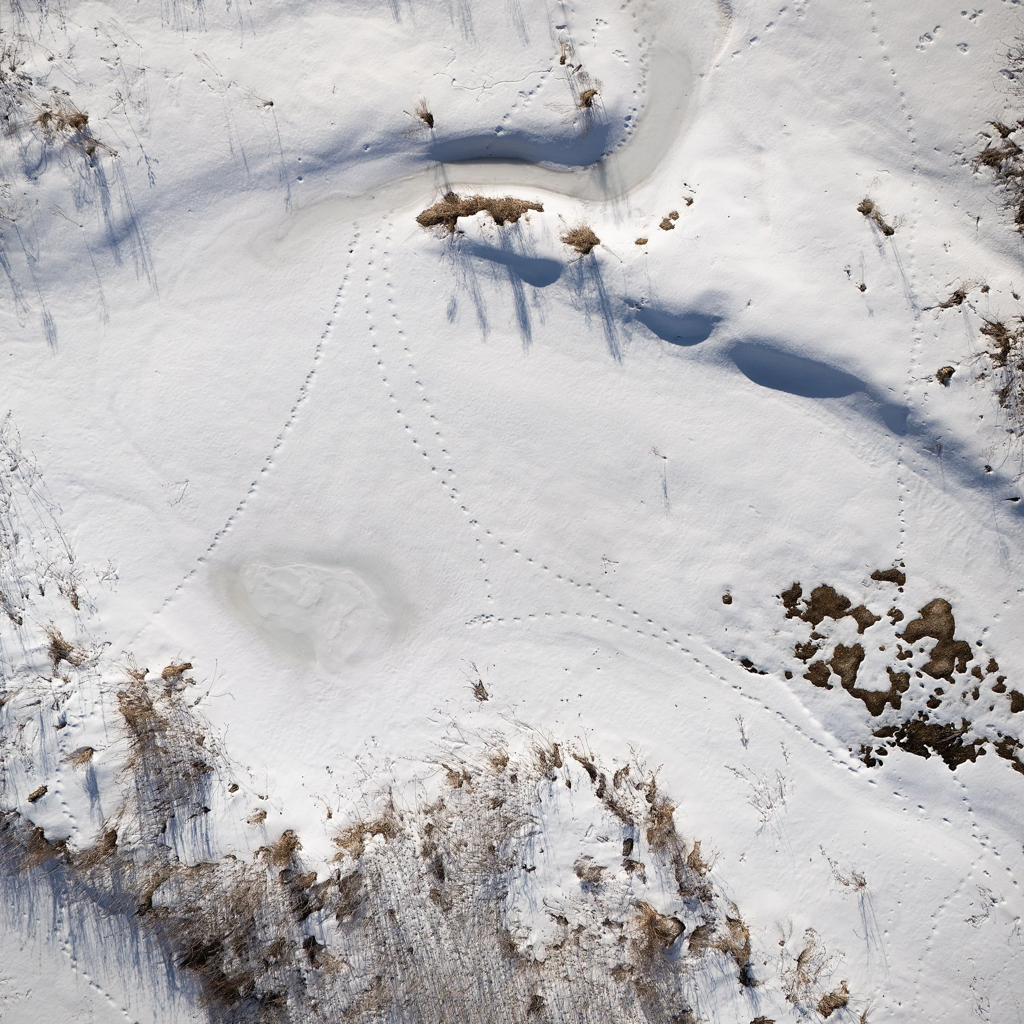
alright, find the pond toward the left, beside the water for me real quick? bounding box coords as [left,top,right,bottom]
[233,559,391,673]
